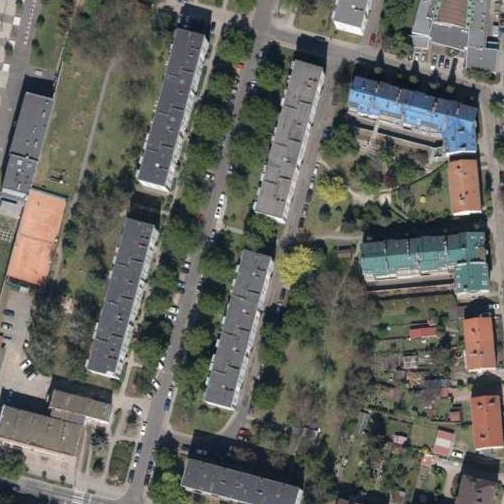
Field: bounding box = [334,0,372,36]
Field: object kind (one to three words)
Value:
building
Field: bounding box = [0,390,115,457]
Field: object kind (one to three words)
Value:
building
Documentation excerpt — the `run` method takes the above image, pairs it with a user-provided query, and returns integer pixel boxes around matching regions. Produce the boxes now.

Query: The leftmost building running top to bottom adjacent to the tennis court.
[0,91,58,216]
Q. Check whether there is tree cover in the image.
Yes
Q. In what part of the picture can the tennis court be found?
left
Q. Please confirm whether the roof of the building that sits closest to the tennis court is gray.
Yes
